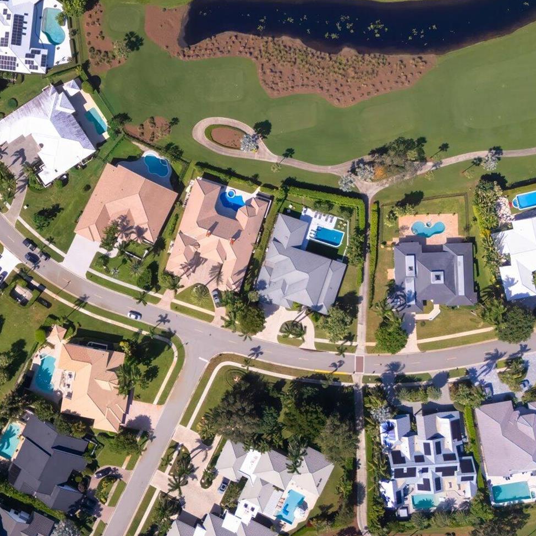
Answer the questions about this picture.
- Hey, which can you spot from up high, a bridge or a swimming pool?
swimming pool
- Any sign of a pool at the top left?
Yes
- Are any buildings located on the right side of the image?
Yes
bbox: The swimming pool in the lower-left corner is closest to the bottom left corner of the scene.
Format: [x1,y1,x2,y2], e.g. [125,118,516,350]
[0,423,22,459]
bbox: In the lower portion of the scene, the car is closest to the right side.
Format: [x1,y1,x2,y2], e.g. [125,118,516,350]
[517,379,533,391]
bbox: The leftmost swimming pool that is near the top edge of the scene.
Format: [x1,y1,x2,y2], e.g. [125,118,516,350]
[41,7,66,46]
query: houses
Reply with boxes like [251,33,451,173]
[378,412,478,511]
[0,79,95,185]
[473,401,536,488]
[165,440,335,536]
[0,0,47,75]
[0,416,88,515]
[392,242,475,310]
[0,503,55,536]
[254,214,347,315]
[492,217,536,300]
[166,179,269,291]
[55,342,128,434]
[78,163,178,243]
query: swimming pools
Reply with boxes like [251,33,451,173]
[41,7,66,46]
[143,153,171,178]
[315,226,346,248]
[411,220,447,239]
[219,189,243,212]
[412,495,438,511]
[513,190,536,210]
[85,106,109,135]
[274,489,306,526]
[0,423,22,459]
[34,354,57,395]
